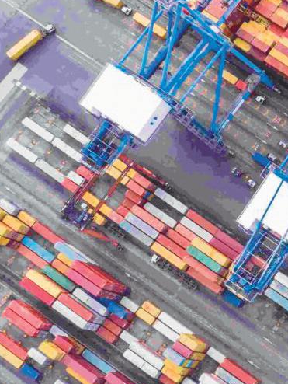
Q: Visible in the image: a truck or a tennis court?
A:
truck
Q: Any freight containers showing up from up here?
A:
Yes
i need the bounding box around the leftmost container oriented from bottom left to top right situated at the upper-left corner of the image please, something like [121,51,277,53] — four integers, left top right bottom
[11,30,46,65]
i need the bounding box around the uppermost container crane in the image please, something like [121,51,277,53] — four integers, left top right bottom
[58,0,281,190]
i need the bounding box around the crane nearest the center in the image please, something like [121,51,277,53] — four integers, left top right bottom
[54,147,167,242]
